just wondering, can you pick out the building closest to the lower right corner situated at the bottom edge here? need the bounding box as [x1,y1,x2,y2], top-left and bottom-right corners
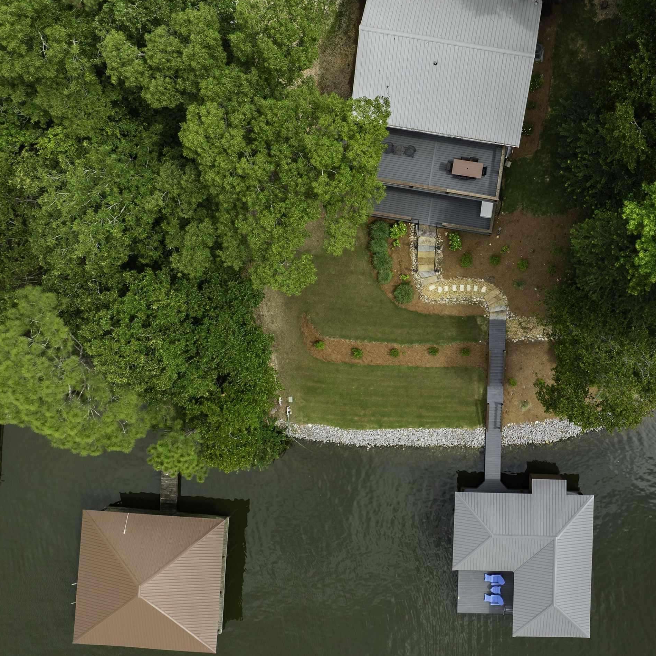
[451,465,595,639]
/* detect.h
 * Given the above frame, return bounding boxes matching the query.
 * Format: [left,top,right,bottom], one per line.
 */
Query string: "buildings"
[451,465,595,639]
[72,506,230,656]
[351,0,543,168]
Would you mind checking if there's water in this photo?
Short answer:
Yes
